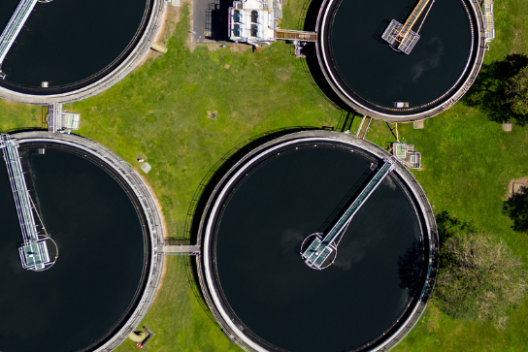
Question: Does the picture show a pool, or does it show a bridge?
bridge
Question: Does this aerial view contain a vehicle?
No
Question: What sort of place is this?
industrial area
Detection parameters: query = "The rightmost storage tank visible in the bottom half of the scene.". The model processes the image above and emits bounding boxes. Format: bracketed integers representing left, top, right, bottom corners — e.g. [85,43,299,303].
[195,130,438,352]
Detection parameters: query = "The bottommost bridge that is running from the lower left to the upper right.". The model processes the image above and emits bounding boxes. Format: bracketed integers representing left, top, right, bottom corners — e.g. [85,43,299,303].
[297,158,399,270]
